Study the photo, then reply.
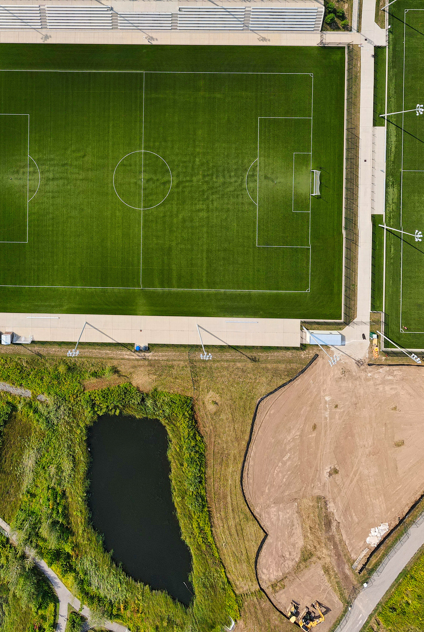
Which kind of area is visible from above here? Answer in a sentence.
This image shows a sports ground.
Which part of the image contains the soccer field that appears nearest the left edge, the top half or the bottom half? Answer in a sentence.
Seen from above, the soccer field that appears nearest the left edge lies in the top half of the view.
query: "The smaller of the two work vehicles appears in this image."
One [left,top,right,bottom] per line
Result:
[286,599,301,621]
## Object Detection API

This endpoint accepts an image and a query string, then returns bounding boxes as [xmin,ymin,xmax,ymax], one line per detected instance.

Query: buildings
[1,332,13,346]
[304,330,344,346]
